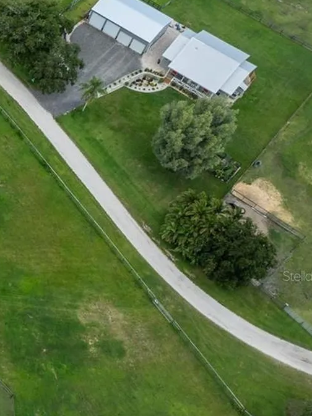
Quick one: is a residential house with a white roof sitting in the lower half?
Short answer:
No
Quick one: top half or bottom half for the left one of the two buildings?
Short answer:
top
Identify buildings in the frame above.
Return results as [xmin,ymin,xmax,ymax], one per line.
[157,28,256,104]
[87,0,172,54]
